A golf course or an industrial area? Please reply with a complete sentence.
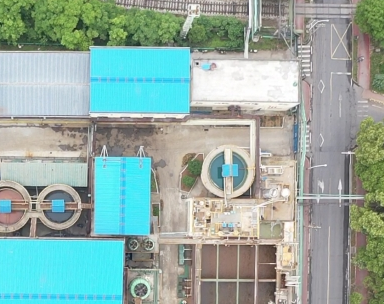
What you see here is an industrial area.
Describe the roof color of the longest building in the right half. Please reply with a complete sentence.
The color of the roof on the longest building in the right half is white.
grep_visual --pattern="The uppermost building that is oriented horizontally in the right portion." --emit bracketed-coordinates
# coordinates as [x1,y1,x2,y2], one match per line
[190,59,299,110]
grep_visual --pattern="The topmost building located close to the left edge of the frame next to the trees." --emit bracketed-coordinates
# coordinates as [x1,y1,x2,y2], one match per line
[0,50,90,118]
